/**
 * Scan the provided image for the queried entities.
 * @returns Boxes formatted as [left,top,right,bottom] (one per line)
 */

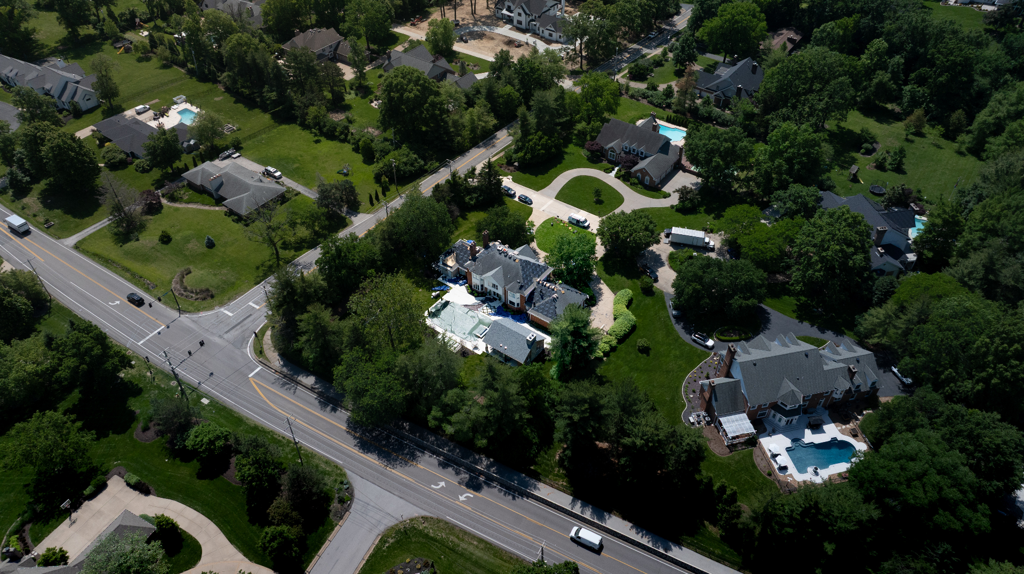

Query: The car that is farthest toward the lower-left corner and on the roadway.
[125,290,145,304]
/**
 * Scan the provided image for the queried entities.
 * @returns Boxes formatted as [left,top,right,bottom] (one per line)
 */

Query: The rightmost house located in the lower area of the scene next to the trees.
[696,332,881,437]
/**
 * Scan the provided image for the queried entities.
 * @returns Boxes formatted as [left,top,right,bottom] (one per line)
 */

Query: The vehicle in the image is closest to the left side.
[3,212,28,231]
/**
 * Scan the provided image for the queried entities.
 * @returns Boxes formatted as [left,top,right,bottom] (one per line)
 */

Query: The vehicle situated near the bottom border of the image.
[567,525,605,550]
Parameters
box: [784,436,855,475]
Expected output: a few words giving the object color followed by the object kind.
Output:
blue swimming pool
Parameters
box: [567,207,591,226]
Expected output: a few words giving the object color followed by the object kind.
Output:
white vehicle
